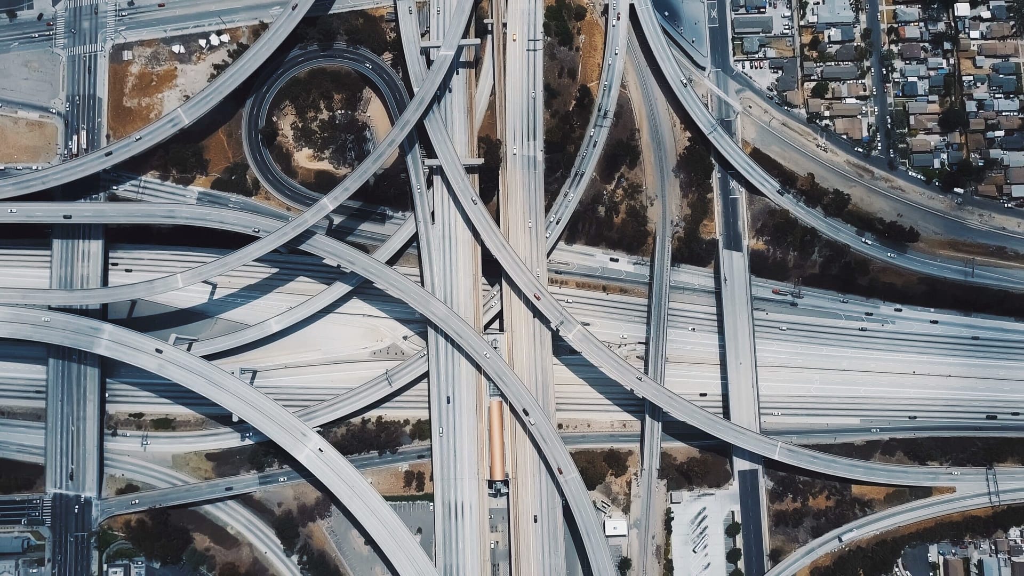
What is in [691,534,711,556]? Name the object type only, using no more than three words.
bus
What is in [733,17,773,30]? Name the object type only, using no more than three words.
house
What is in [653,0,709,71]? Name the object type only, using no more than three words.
building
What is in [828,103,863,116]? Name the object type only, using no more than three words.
house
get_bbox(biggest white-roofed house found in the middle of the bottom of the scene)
[605,518,627,536]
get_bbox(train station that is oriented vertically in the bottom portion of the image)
[482,333,510,482]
